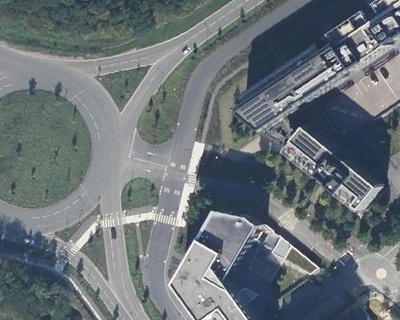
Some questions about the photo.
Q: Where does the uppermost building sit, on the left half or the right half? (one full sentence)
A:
The uppermost building is on the right side of the image.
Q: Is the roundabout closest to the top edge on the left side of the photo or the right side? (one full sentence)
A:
The roundabout closest to the top edge appears in the left half of the scene.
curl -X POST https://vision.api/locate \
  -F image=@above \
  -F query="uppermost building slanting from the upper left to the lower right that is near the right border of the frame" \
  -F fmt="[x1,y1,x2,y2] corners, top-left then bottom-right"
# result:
[280,126,385,212]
